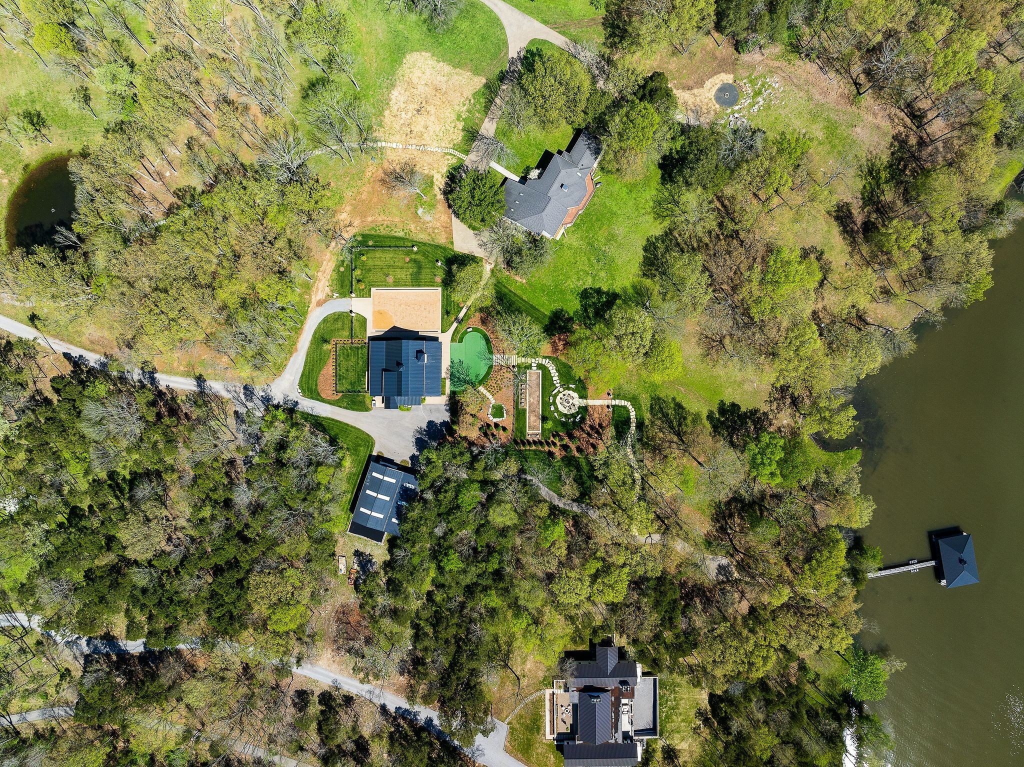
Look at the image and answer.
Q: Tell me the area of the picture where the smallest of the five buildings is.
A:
bottom right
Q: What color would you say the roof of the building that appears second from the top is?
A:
blue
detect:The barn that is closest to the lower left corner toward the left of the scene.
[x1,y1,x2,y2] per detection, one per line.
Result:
[348,461,418,544]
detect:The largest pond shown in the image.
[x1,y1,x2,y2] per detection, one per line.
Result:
[9,153,120,252]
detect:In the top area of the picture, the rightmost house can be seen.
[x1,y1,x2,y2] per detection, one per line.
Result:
[503,130,604,241]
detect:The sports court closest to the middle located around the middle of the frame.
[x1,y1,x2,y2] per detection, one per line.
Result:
[518,371,541,440]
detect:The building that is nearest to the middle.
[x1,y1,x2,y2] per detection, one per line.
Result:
[369,340,442,409]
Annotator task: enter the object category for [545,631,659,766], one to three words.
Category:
house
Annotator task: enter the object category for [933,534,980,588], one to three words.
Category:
building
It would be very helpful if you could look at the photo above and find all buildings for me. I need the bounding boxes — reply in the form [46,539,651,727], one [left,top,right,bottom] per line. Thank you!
[348,461,418,544]
[503,130,604,241]
[933,534,980,588]
[369,340,442,409]
[545,631,659,766]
